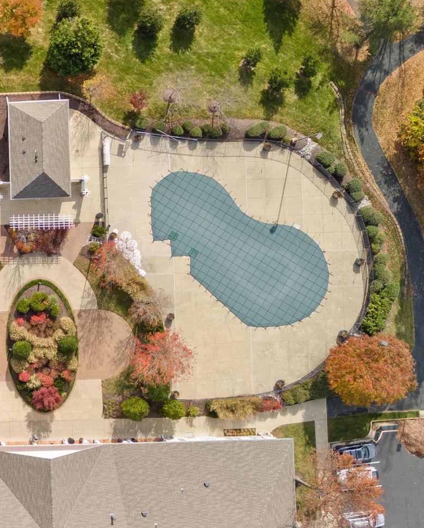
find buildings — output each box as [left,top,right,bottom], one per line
[0,436,295,528]
[8,100,71,200]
